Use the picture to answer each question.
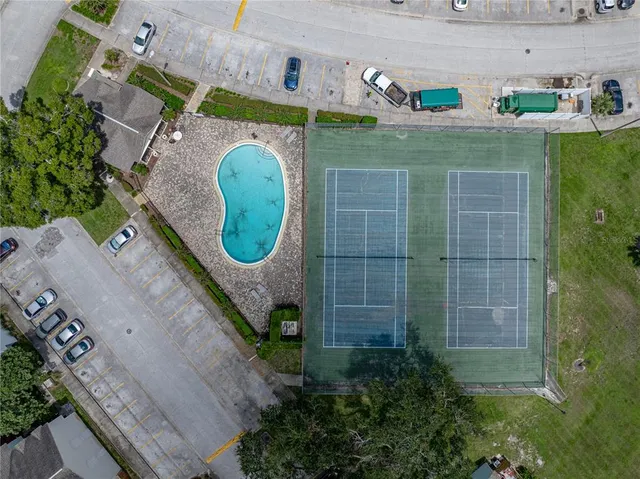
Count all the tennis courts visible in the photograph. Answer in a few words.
two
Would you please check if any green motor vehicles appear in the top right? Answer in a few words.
Yes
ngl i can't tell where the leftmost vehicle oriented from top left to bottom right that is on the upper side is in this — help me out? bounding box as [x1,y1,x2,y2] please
[364,71,407,107]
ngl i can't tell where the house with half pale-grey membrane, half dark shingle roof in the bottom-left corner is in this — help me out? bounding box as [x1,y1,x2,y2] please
[0,412,122,479]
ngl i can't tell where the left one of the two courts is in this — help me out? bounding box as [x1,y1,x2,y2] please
[304,128,427,387]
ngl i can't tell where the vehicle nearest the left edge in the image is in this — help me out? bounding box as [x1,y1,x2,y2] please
[0,235,21,263]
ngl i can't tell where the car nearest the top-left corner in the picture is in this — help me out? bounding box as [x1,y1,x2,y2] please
[133,21,155,56]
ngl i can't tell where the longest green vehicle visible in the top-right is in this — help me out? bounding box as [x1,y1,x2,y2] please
[498,91,563,114]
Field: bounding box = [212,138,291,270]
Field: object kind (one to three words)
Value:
swimming pool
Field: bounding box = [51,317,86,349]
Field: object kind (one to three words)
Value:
car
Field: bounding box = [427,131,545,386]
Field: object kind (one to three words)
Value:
tennis court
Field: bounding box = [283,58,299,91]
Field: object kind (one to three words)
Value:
car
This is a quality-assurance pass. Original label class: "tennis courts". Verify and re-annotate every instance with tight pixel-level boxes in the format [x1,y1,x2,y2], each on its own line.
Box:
[304,128,427,387]
[427,131,545,386]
